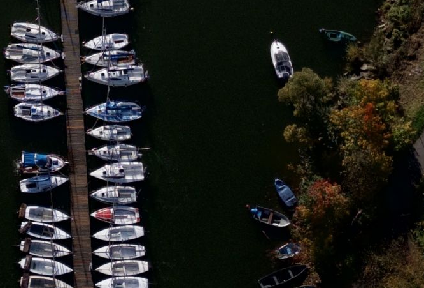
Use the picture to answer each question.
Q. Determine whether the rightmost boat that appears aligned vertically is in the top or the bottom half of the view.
top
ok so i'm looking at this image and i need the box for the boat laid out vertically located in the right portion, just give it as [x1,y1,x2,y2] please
[272,37,293,81]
